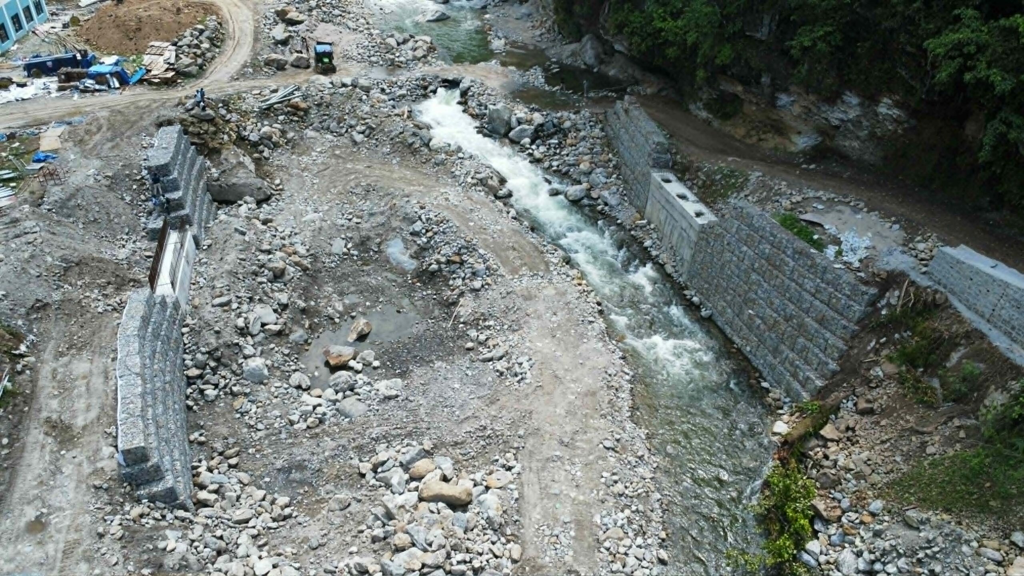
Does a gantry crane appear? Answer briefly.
No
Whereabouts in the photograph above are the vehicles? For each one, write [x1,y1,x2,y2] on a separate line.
[316,32,343,72]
